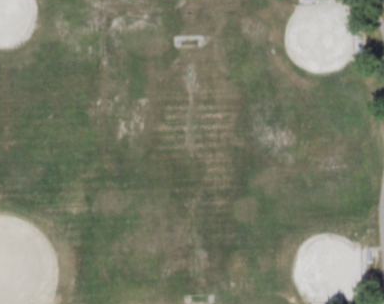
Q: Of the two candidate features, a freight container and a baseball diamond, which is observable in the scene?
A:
baseball diamond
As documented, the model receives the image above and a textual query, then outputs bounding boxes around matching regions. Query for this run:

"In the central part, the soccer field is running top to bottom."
[146,35,242,304]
